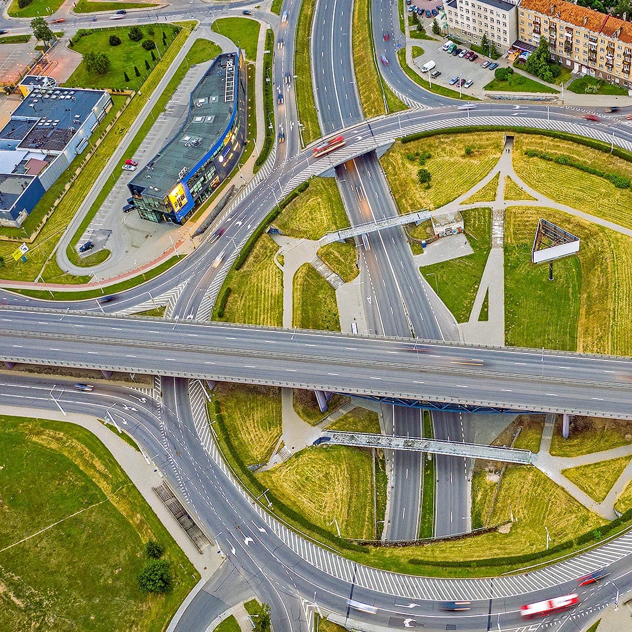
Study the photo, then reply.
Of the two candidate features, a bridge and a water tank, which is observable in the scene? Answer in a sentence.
The image shows a bridge.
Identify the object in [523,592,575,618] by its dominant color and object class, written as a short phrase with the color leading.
white bus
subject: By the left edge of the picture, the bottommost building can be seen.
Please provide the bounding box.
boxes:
[0,172,47,229]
